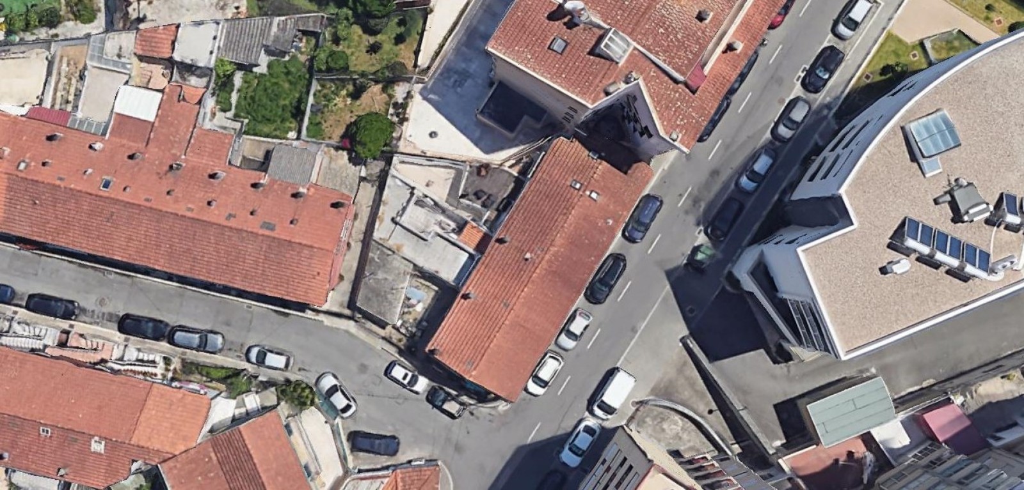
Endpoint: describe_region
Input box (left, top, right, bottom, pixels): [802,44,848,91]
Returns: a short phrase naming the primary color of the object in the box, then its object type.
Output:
black car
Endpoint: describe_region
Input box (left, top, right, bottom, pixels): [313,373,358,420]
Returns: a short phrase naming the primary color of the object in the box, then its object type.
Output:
white car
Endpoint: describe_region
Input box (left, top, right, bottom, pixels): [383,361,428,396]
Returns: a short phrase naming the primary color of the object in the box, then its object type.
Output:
white car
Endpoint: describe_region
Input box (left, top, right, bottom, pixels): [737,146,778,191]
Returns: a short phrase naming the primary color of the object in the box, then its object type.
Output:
blue car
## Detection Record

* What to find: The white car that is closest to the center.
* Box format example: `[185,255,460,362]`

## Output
[555,309,593,350]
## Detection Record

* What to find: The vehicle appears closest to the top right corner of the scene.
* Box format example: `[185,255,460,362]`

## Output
[832,0,879,39]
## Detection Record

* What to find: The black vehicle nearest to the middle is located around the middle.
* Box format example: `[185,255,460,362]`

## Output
[585,255,628,303]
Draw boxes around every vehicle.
[115,312,169,344]
[623,194,665,240]
[772,0,797,28]
[561,420,601,468]
[737,146,778,191]
[166,324,222,357]
[425,387,466,422]
[698,100,731,142]
[313,373,358,420]
[705,196,747,240]
[728,56,759,96]
[21,291,78,323]
[802,44,848,91]
[0,281,16,306]
[772,95,814,140]
[383,361,428,396]
[585,255,628,303]
[832,0,879,39]
[245,344,293,373]
[346,430,400,461]
[593,367,636,417]
[555,309,593,350]
[525,352,565,395]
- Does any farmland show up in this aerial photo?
No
